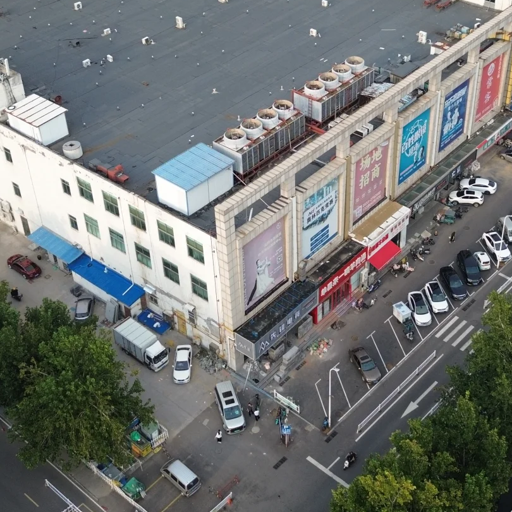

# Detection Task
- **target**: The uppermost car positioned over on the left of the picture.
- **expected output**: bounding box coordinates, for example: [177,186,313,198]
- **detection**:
[7,255,41,280]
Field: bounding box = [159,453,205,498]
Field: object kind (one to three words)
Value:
vehicle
